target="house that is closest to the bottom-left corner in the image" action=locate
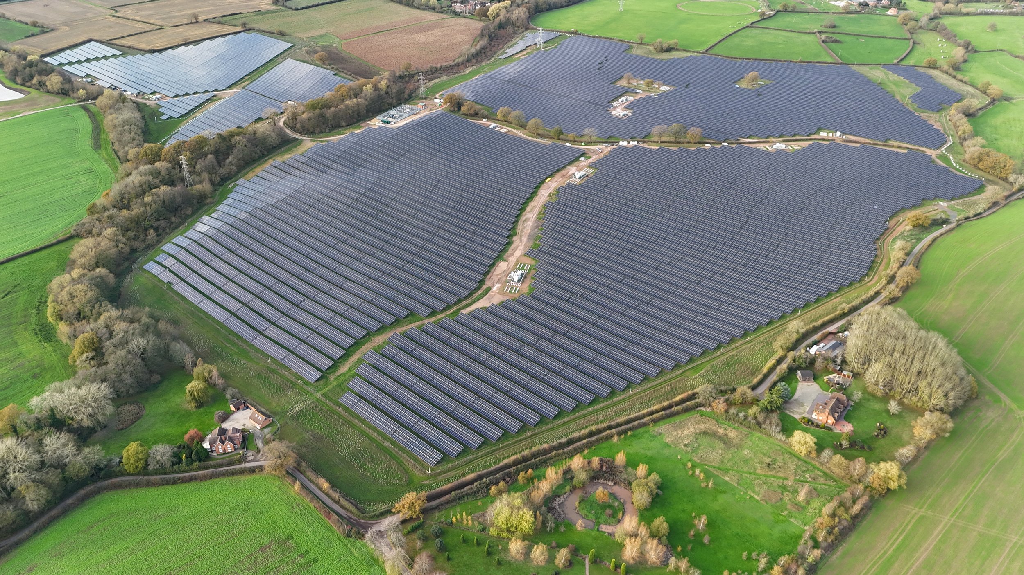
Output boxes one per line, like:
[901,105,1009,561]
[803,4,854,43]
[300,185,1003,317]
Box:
[200,421,245,455]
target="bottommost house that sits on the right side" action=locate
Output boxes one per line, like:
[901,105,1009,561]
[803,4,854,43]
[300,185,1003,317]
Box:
[808,390,855,425]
